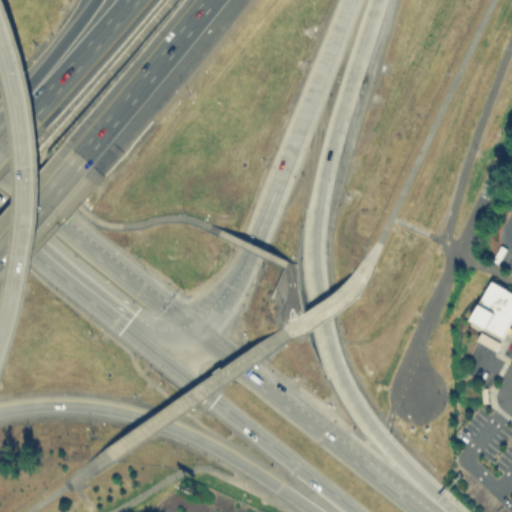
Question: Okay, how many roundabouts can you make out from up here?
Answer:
0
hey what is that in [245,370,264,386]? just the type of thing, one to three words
vehicle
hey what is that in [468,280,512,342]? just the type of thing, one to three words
building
